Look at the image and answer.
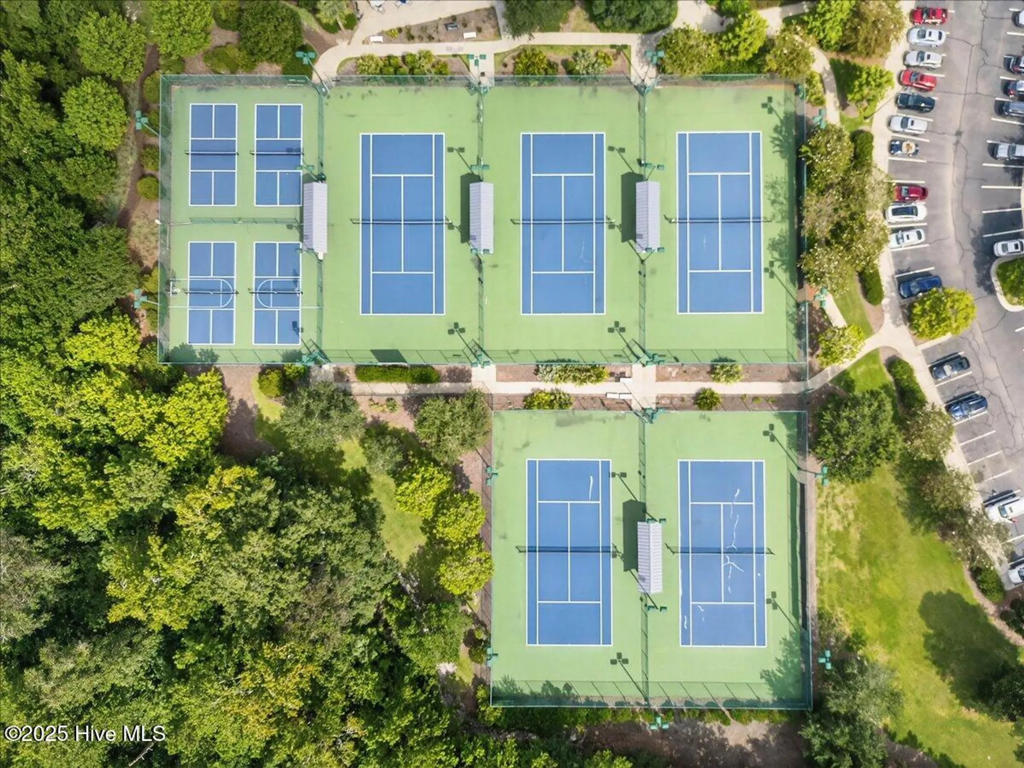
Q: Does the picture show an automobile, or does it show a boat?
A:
automobile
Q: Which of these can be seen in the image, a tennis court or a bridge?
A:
tennis court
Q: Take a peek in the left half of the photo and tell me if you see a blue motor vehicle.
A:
No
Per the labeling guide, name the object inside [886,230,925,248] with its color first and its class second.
white car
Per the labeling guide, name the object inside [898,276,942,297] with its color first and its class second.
blue car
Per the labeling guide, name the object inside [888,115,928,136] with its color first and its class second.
white car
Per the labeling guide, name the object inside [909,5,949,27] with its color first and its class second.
red car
